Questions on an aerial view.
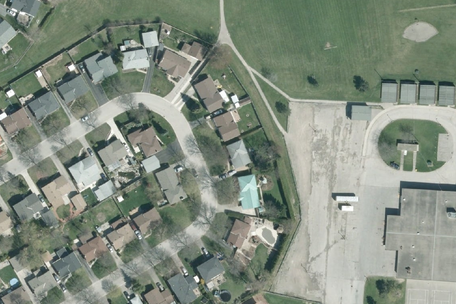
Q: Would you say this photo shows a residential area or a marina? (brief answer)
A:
residential area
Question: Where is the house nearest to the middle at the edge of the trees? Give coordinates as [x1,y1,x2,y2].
[224,140,250,171]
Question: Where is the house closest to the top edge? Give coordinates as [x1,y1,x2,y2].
[9,0,40,18]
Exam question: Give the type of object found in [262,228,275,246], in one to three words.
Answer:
swimming pool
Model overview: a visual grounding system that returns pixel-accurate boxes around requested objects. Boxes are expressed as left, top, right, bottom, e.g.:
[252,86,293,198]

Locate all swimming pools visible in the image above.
[220,291,232,302]
[262,228,275,246]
